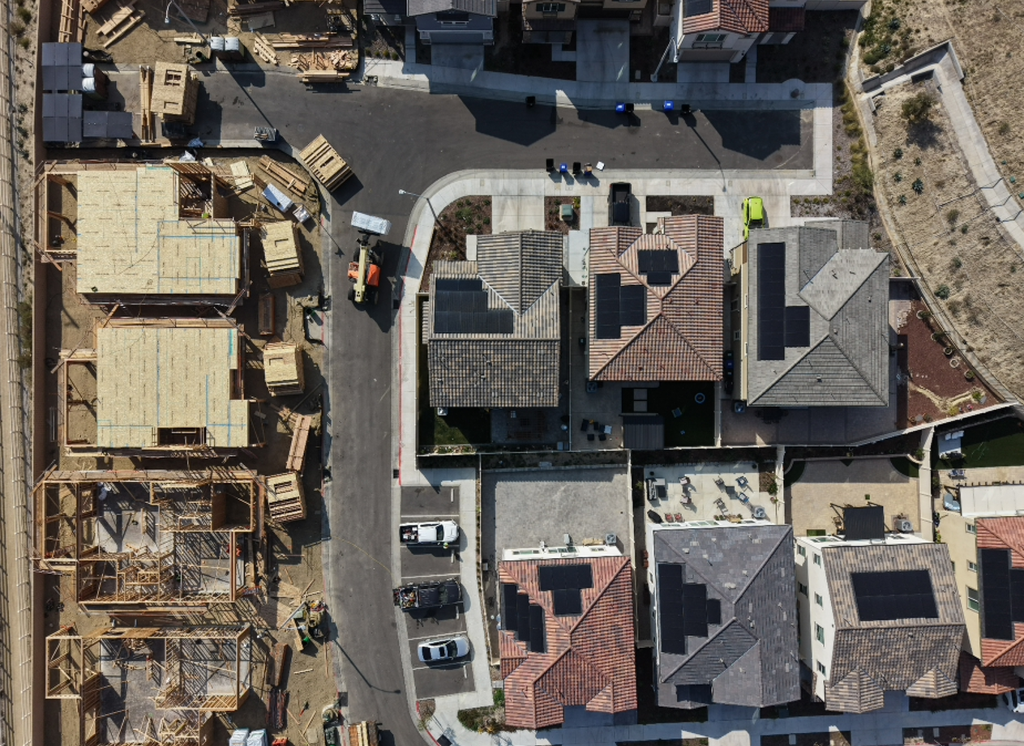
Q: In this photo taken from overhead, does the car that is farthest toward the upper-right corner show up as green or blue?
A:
green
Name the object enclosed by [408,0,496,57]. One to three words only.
house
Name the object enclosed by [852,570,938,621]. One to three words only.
solar array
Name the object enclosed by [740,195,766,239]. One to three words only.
car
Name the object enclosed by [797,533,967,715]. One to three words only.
house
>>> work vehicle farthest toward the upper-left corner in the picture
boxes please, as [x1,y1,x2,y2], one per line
[348,228,381,302]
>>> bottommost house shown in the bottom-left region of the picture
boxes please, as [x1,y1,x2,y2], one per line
[46,626,251,746]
